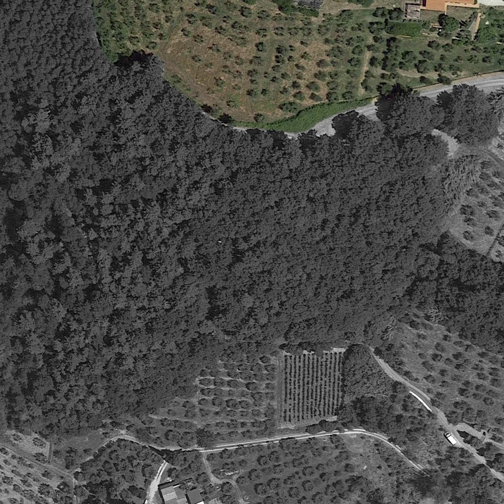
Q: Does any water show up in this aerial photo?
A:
No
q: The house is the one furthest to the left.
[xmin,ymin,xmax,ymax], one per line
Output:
[160,485,187,504]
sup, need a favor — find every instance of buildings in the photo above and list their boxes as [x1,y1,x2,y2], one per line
[160,485,187,504]
[419,0,475,10]
[186,487,204,504]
